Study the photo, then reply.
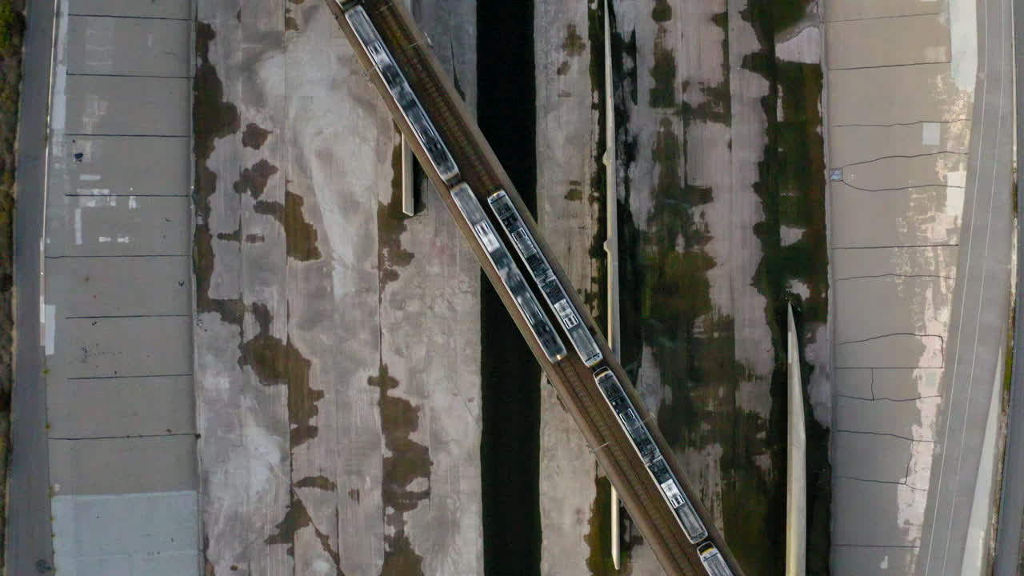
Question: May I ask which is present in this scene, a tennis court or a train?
train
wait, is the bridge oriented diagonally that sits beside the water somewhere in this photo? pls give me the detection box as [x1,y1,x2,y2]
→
[326,0,806,576]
